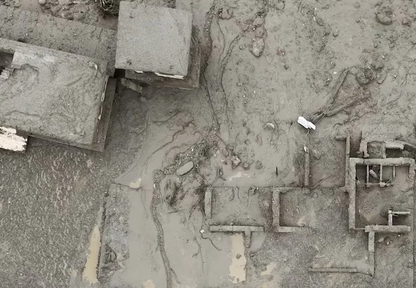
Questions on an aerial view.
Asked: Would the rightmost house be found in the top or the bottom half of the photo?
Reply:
bottom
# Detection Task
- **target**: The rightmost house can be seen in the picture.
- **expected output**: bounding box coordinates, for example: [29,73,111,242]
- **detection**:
[310,136,416,277]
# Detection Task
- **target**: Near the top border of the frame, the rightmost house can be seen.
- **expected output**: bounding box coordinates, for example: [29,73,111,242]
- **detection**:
[115,1,201,92]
